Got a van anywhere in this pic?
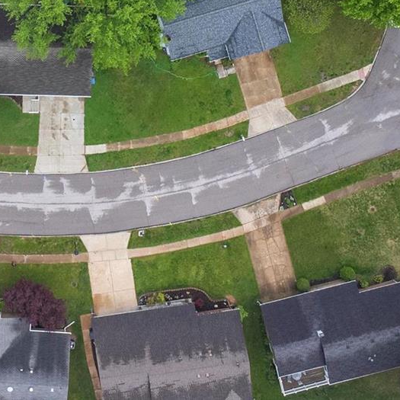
No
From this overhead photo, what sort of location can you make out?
residential area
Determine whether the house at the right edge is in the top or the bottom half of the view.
bottom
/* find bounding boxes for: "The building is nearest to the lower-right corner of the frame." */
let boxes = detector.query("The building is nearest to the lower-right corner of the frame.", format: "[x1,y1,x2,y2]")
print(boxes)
[255,279,400,381]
